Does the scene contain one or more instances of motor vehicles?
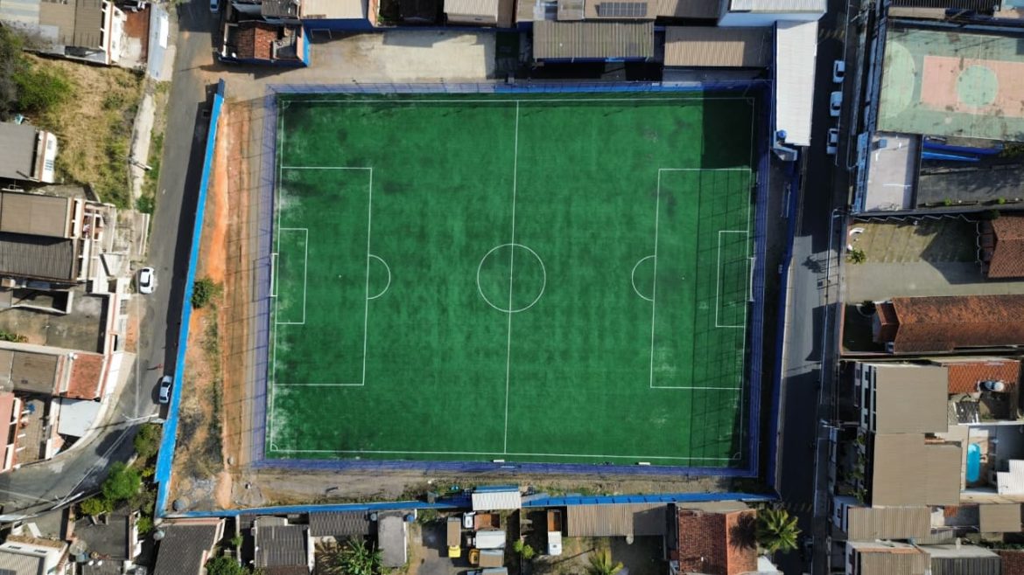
Yes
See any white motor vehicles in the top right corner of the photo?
No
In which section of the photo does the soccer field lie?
center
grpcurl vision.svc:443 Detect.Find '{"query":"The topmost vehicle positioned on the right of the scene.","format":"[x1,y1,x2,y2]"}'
[833,58,848,82]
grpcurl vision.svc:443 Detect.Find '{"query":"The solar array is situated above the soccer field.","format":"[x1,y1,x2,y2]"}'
[599,2,648,16]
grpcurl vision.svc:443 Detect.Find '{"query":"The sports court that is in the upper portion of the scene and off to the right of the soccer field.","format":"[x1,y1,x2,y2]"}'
[878,26,1024,143]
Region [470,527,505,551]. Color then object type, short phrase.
white truck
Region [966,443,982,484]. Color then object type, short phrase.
blue swimming pool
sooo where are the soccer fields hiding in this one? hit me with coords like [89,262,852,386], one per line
[266,90,760,467]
